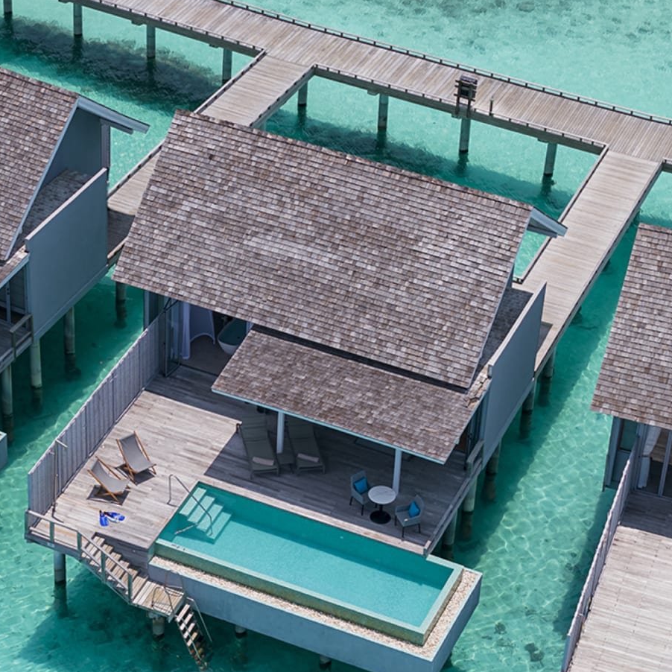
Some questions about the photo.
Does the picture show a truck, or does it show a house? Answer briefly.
house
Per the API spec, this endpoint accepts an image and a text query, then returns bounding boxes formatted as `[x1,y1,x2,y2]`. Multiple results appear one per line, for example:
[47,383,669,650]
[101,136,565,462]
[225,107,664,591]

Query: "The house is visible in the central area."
[21,107,573,635]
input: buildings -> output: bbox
[567,221,672,672]
[21,107,573,635]
[0,66,150,464]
